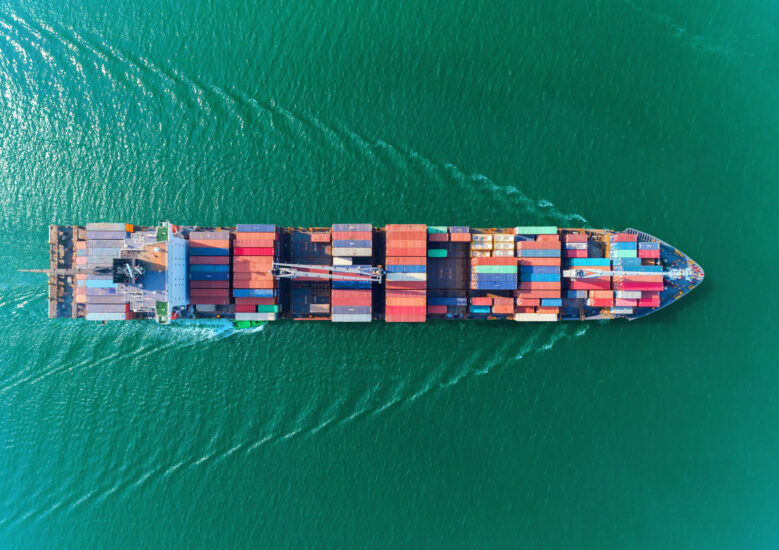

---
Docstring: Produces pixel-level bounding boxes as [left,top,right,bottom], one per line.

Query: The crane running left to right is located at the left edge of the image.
[14,265,111,277]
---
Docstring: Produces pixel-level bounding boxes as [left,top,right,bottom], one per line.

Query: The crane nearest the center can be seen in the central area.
[272,262,386,283]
